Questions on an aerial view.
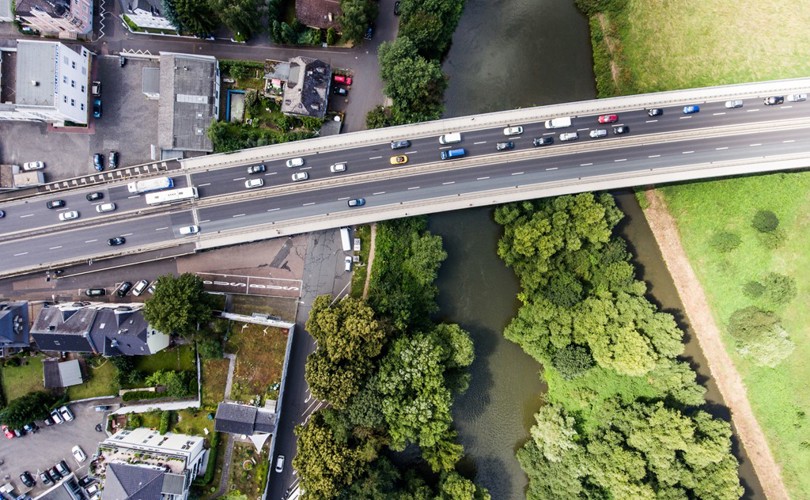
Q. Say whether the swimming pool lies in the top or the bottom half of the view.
top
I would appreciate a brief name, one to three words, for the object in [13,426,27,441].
vehicle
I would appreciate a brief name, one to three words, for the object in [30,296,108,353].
house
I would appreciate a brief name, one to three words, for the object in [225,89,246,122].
swimming pool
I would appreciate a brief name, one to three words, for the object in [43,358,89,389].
shed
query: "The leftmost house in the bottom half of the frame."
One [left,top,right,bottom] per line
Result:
[0,301,39,347]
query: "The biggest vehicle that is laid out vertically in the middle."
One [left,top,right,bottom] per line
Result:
[339,226,352,252]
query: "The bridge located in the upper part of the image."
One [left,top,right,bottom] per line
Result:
[0,76,810,279]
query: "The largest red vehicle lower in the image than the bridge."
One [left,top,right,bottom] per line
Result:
[2,423,16,440]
